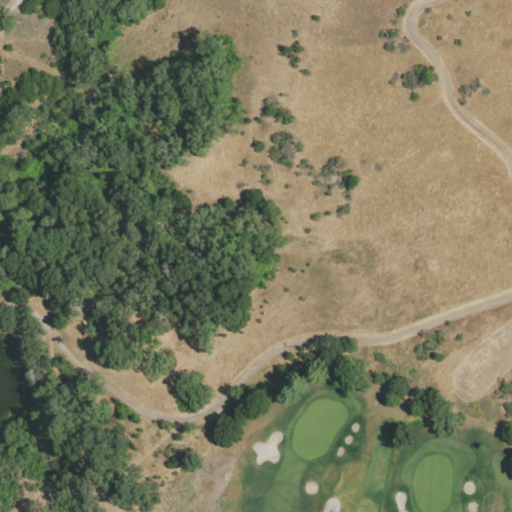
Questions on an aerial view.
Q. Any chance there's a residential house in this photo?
No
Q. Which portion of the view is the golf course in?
bottom right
